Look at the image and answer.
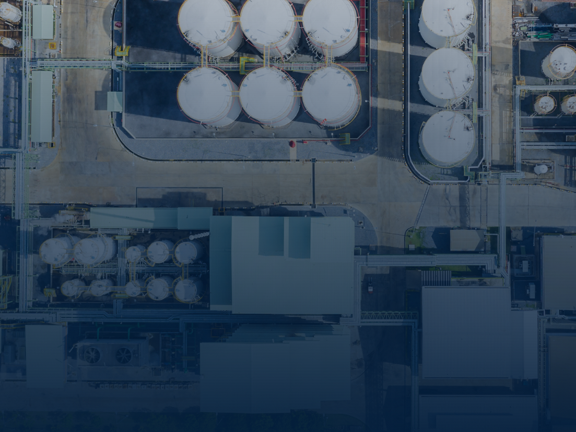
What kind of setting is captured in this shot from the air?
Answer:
industrial area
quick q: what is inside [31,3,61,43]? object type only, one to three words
shed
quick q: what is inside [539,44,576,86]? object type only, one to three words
storage tank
